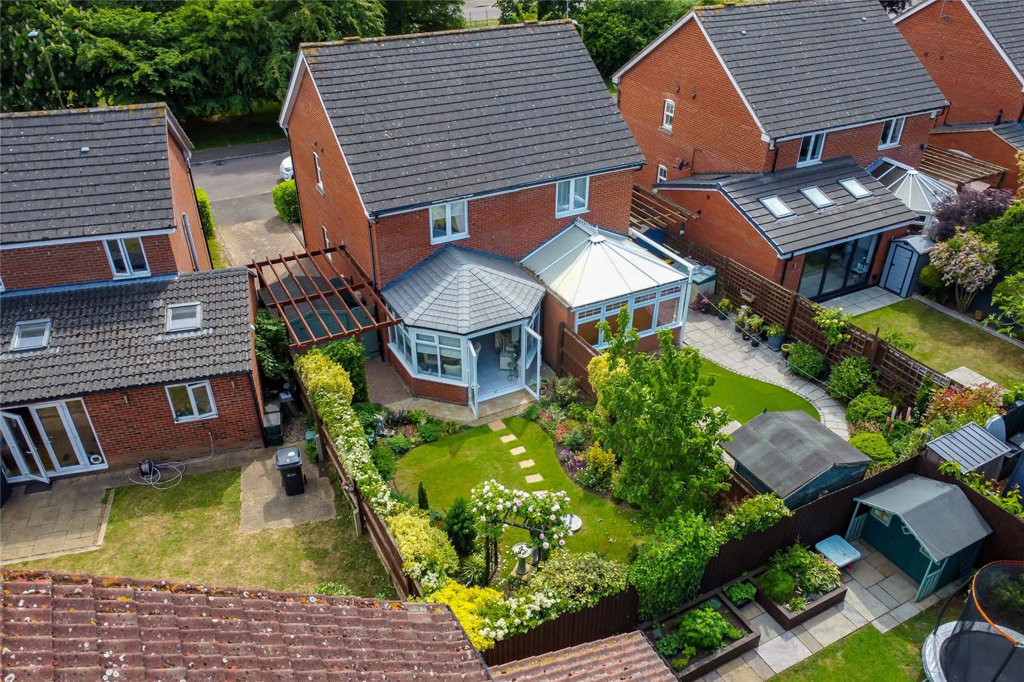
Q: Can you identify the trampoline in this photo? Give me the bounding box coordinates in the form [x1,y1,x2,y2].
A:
[917,565,1024,682]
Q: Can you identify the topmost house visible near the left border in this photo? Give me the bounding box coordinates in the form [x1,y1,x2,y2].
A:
[0,100,264,493]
